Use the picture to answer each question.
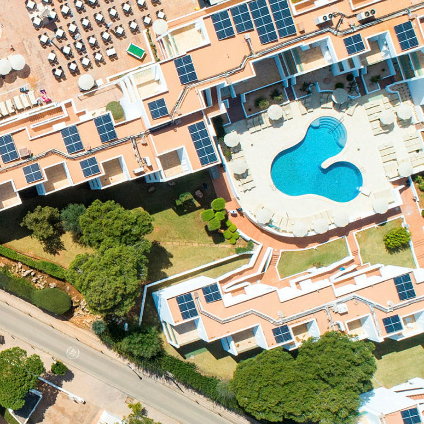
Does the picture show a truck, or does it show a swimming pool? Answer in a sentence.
Looking from above, you can make out a swimming pool.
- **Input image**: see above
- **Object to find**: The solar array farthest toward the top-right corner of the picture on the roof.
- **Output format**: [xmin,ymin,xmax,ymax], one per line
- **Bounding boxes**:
[393,22,419,50]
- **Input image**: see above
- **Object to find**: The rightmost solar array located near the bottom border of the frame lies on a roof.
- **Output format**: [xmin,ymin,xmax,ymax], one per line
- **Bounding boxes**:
[401,406,423,424]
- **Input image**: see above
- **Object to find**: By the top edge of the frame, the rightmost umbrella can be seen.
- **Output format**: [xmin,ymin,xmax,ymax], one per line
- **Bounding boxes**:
[151,18,168,36]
